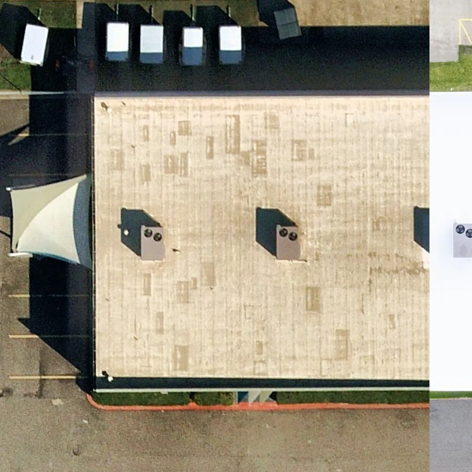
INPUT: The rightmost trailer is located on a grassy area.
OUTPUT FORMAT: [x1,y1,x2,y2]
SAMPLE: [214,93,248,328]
[218,9,247,65]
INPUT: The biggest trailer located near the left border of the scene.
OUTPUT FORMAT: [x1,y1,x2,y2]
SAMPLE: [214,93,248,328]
[21,11,54,66]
